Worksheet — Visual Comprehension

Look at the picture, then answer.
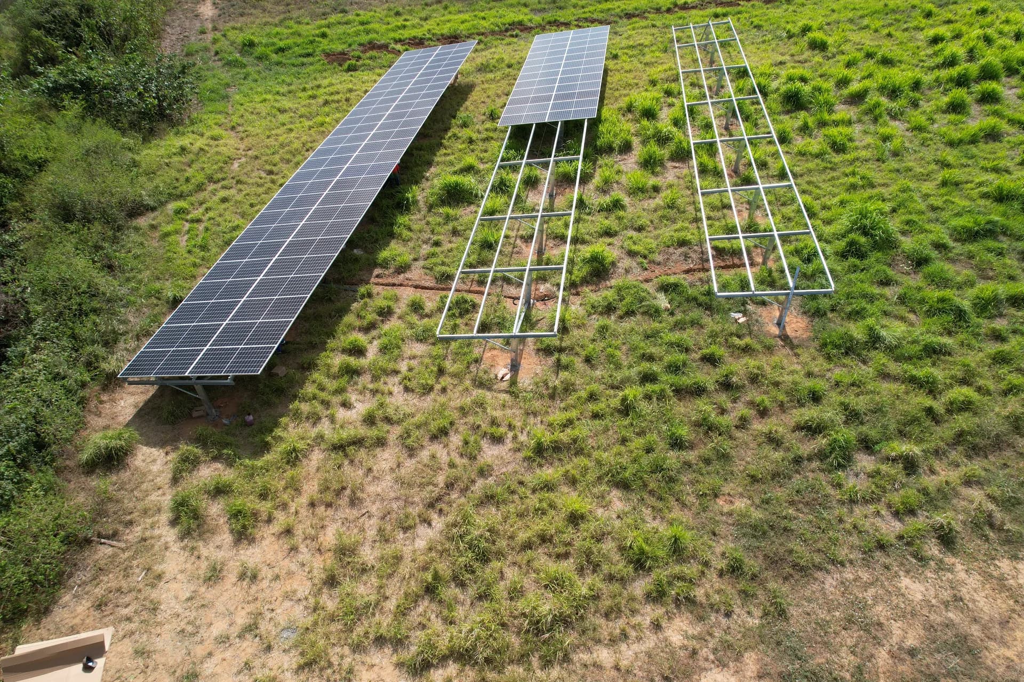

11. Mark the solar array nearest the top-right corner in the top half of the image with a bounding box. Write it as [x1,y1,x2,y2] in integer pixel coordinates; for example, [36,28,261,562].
[673,19,833,331]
